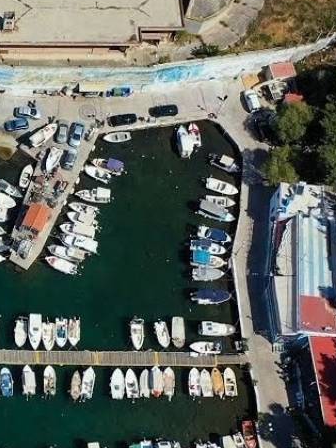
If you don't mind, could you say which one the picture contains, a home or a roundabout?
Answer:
home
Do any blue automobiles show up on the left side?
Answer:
Yes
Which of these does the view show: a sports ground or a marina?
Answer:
marina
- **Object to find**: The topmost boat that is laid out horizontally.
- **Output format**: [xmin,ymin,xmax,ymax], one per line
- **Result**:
[96,132,131,145]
